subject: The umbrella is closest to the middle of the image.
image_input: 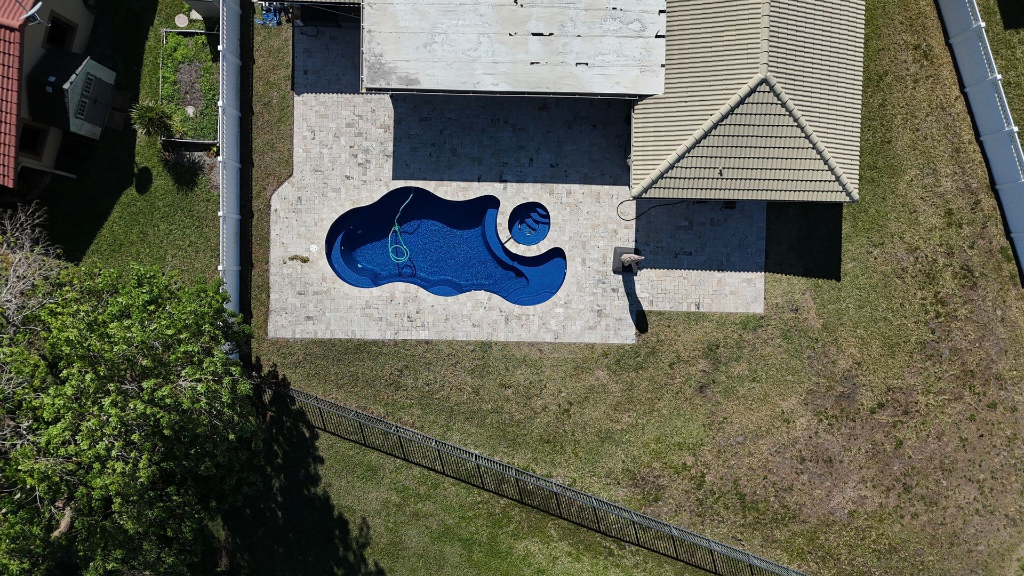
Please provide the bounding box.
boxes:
[613,247,651,275]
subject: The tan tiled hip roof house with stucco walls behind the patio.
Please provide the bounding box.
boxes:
[629,0,868,206]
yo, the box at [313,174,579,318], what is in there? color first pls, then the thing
blue swimming pool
